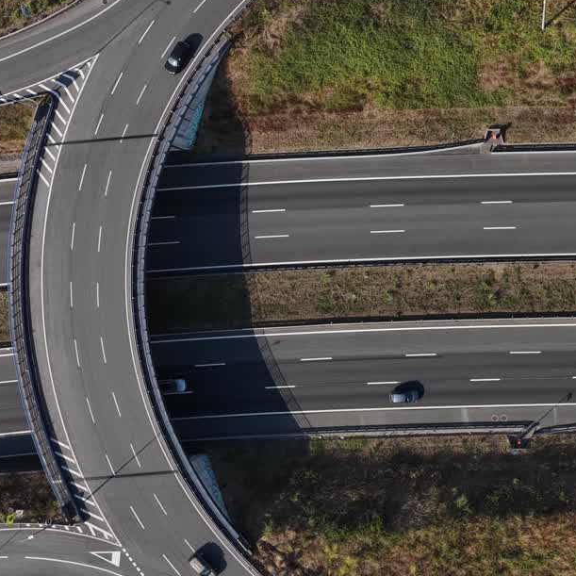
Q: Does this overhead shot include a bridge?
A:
Yes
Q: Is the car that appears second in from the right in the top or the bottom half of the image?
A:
bottom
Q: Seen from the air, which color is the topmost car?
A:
black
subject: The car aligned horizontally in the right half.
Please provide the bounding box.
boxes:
[390,390,422,404]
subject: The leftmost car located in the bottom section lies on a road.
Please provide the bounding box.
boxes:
[161,378,188,392]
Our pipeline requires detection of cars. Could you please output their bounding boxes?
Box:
[390,390,422,404]
[161,378,188,392]
[188,554,217,576]
[166,40,192,72]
